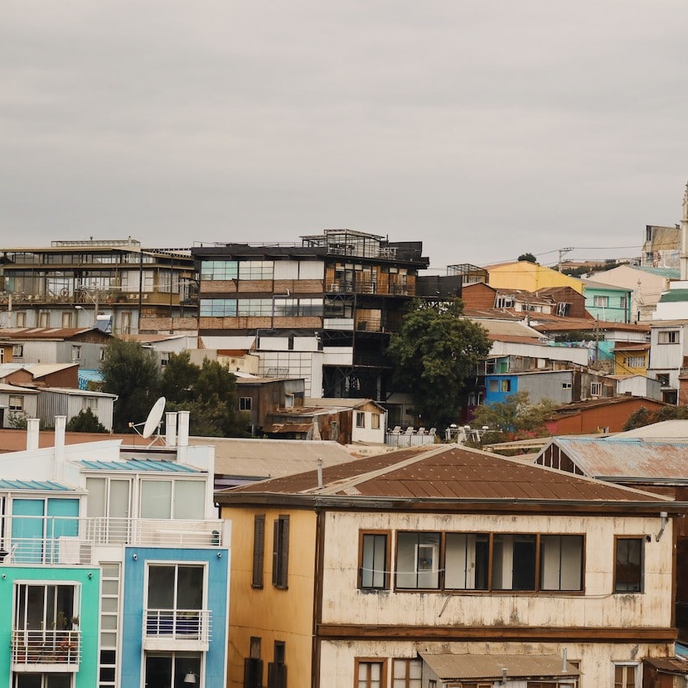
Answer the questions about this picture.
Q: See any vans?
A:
No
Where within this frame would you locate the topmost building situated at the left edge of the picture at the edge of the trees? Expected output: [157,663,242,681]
[0,232,209,342]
